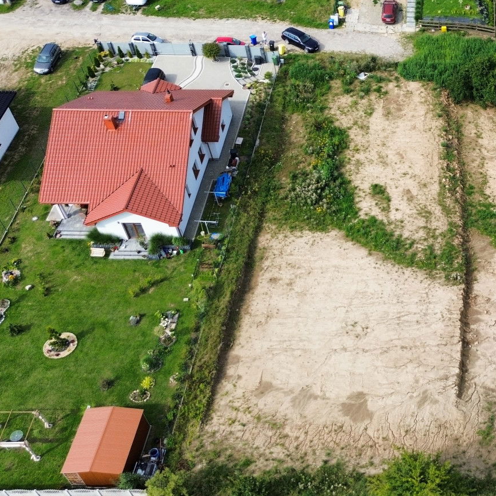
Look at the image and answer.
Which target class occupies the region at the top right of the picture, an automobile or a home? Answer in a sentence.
It is an automobile that can be seen at the top right of the picture.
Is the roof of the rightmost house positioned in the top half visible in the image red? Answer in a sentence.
Yes, the roof of the rightmost house positioned in the top half appears red.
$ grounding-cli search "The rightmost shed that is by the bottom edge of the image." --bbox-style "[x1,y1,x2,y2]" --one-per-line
[58,402,149,487]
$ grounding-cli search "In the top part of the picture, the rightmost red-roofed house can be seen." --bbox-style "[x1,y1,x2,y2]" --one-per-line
[39,76,235,259]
